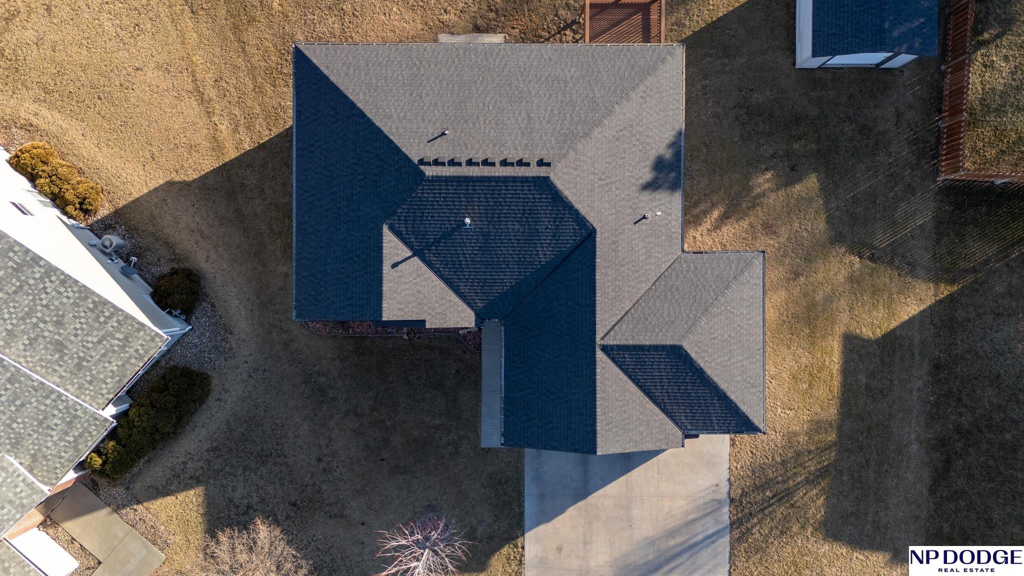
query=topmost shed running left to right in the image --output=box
[793,0,938,70]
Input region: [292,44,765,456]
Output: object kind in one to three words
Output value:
house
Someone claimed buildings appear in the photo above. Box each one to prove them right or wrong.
[0,148,189,576]
[793,0,938,70]
[292,44,765,456]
